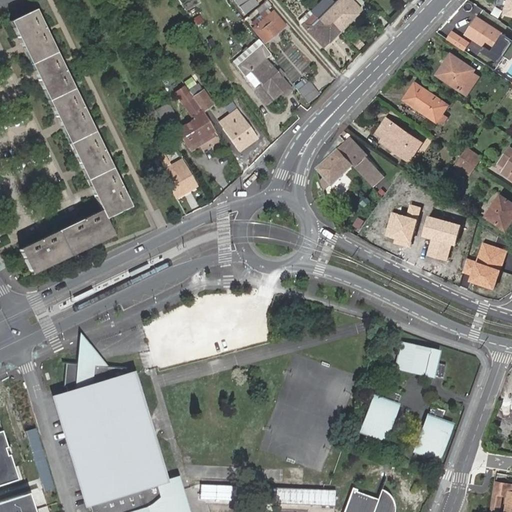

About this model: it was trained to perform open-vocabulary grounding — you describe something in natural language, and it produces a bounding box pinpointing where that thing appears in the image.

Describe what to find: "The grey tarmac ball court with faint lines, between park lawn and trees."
[258,354,353,472]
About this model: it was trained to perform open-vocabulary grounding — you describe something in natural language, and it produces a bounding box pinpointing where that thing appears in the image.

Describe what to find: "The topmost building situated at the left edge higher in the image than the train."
[10,7,132,218]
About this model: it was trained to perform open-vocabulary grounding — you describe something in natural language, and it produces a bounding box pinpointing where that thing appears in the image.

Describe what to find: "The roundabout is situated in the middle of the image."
[235,183,334,274]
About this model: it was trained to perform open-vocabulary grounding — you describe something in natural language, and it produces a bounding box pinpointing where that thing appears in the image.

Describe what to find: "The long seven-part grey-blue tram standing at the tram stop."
[72,260,172,312]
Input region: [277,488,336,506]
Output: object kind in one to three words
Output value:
building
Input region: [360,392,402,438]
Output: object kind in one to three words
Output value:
building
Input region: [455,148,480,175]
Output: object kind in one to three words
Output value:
house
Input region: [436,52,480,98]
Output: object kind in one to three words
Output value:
house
